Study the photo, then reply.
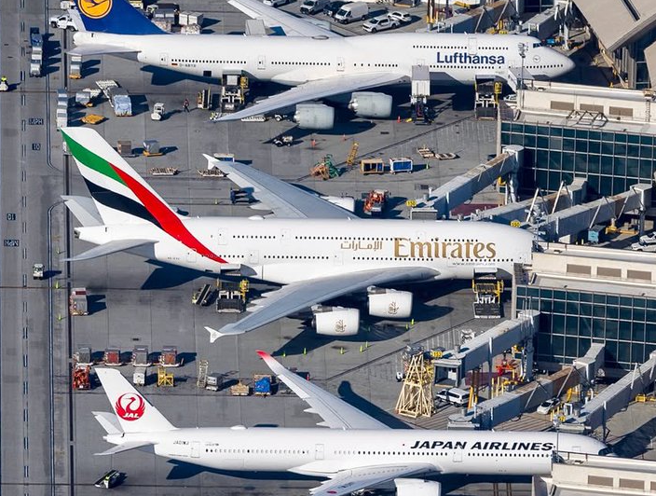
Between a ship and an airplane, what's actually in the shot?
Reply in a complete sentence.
It is an airplane that can be seen here.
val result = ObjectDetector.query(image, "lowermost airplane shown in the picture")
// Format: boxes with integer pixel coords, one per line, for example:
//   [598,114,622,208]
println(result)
[93,352,615,496]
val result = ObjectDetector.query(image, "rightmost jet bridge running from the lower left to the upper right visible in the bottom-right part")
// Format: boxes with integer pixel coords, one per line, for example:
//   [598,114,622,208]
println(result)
[547,346,656,446]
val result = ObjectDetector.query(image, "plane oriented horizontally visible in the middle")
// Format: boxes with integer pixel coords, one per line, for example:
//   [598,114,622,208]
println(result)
[60,127,539,336]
